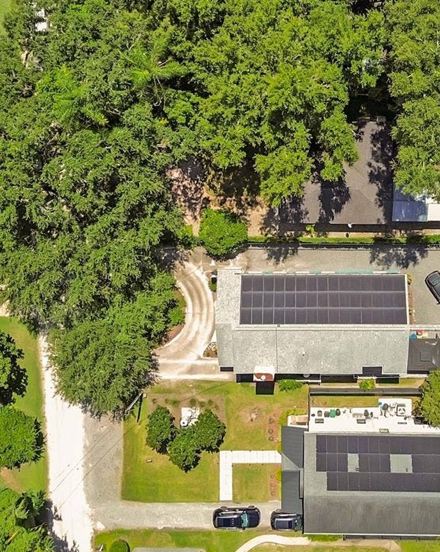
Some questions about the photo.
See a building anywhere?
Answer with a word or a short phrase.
Yes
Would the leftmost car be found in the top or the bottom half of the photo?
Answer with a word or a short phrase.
bottom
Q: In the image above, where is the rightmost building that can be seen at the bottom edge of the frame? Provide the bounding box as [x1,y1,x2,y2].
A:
[282,417,440,535]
